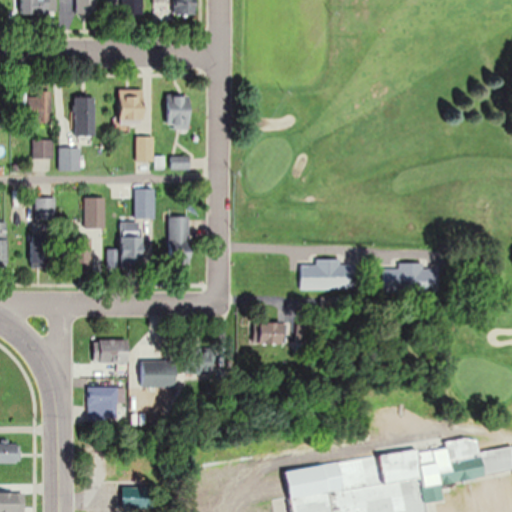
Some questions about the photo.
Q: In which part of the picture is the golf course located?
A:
top right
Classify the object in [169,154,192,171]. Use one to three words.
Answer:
building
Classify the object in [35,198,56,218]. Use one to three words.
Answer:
building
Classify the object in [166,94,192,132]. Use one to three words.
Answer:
house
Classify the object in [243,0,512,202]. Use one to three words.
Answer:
golf course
